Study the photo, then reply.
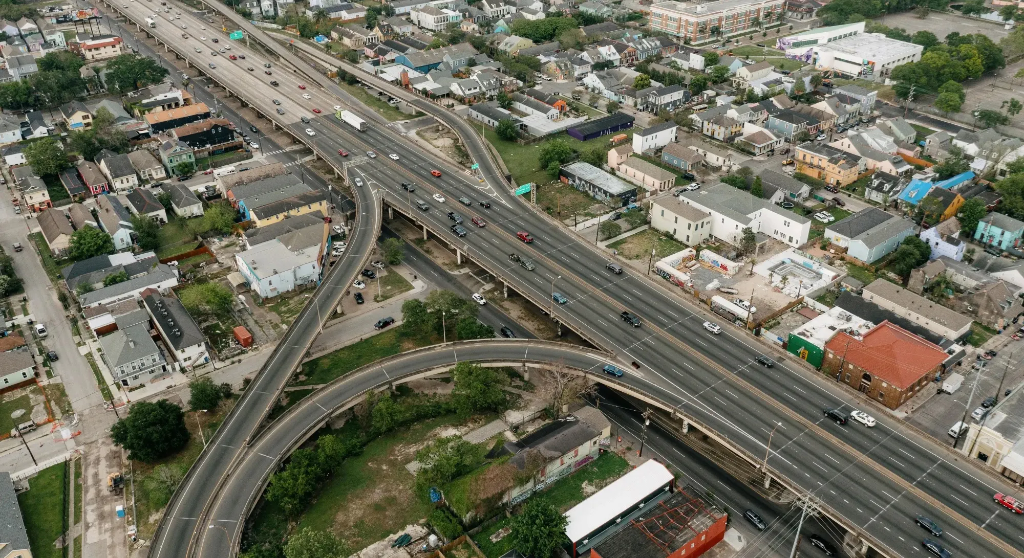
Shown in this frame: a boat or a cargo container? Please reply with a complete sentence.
This aerial view contains a cargo container.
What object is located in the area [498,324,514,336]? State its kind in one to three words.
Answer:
vehicle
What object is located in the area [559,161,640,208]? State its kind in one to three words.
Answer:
building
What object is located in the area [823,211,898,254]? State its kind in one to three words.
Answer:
house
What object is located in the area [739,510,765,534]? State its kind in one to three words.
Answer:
car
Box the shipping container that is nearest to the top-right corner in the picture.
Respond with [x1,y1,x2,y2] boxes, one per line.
[699,255,739,280]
